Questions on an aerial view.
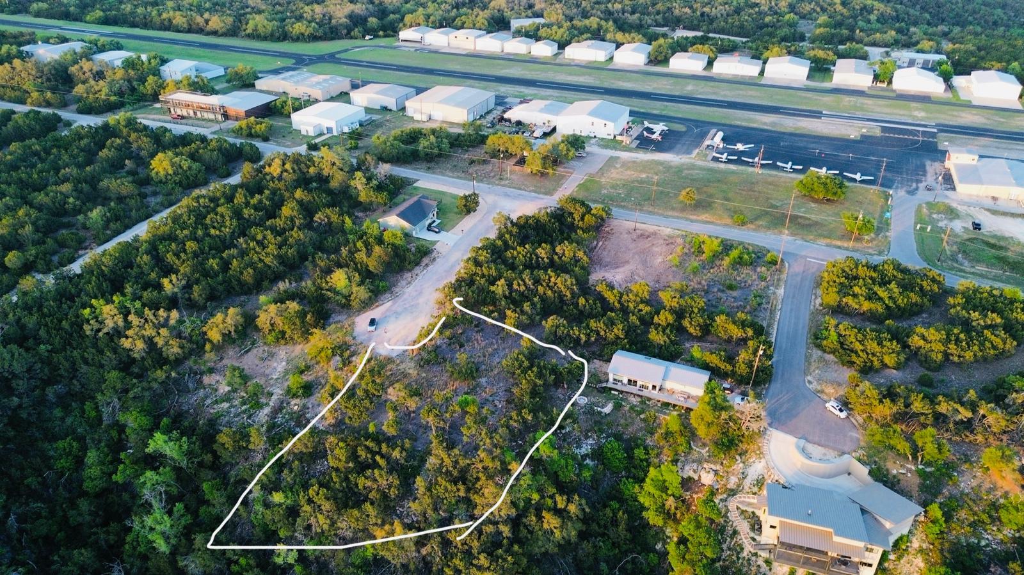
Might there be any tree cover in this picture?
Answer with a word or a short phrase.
Yes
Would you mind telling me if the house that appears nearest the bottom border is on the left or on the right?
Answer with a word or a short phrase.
right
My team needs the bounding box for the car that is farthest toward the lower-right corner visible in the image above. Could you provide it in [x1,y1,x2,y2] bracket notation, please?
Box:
[824,404,850,418]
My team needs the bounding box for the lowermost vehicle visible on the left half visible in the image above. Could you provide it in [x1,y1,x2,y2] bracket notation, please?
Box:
[366,316,379,331]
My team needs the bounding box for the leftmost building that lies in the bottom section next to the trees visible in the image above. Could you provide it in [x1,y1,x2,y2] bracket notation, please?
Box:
[601,351,707,419]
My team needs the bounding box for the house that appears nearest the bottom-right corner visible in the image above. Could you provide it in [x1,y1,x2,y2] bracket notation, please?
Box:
[755,482,924,575]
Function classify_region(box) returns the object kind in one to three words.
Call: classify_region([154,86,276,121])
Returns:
building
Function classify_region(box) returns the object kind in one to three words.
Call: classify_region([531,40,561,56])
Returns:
hangar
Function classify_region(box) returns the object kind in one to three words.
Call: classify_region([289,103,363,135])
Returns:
hangar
